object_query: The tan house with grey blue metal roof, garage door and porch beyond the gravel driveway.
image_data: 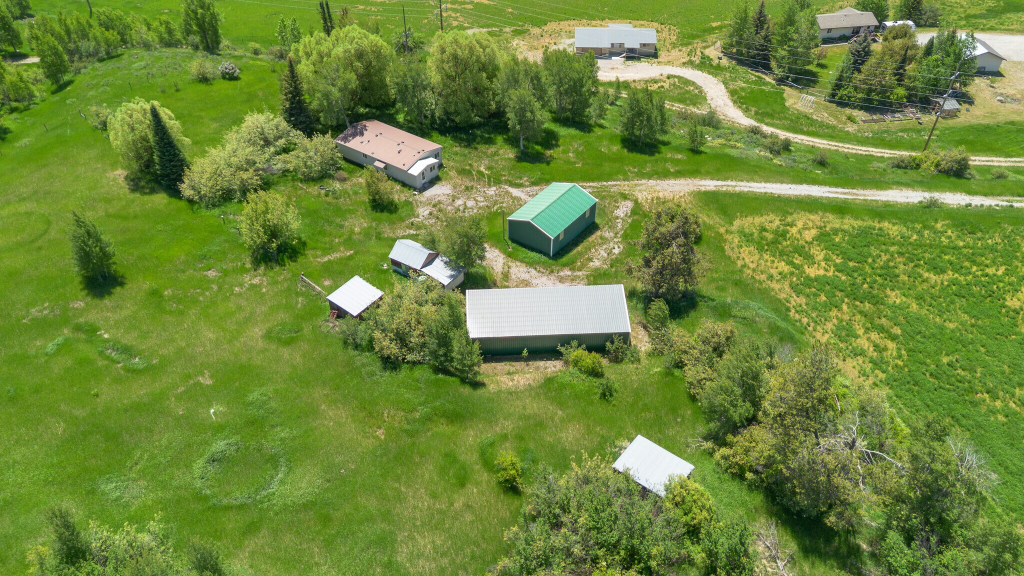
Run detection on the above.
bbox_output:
[572,14,658,62]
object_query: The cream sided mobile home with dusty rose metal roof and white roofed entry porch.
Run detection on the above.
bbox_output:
[335,121,444,189]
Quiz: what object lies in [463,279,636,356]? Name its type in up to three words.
barn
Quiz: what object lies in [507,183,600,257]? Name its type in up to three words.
shed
